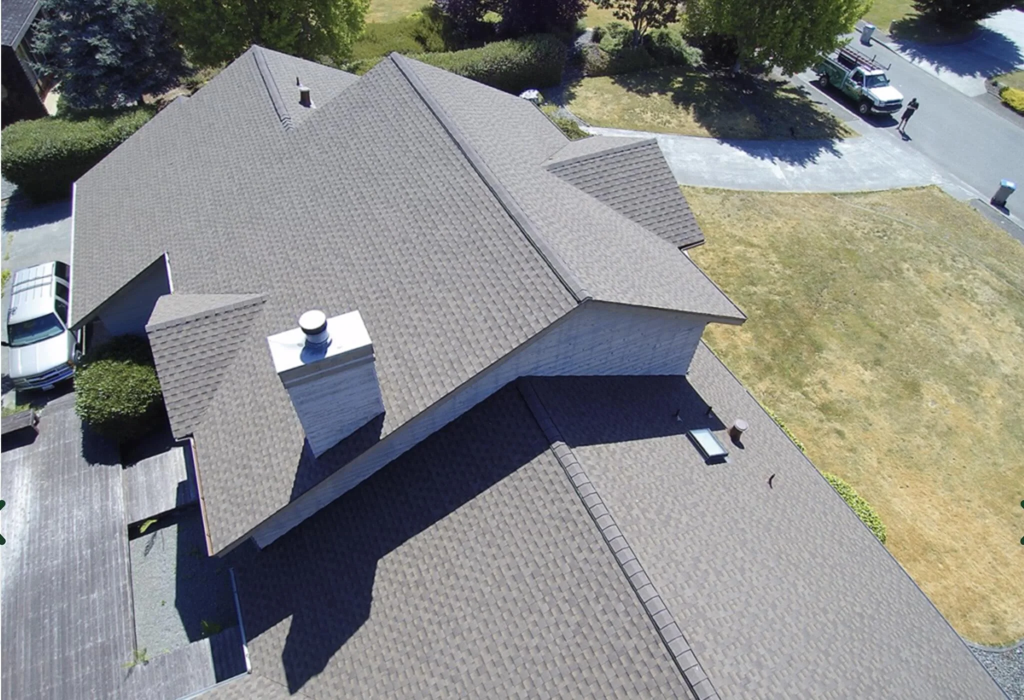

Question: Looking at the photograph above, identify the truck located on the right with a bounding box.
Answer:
[804,36,908,121]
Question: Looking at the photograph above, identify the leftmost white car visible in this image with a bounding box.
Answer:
[1,264,87,395]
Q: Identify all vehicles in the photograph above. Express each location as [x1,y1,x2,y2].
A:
[1,264,87,395]
[804,36,908,121]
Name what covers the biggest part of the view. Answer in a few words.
buildings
